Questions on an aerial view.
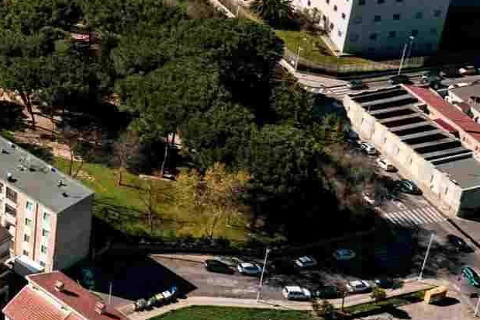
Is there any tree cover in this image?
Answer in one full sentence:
Yes, some tree cover is visible.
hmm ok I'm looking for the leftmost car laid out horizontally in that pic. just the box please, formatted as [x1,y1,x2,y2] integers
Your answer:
[204,258,231,273]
